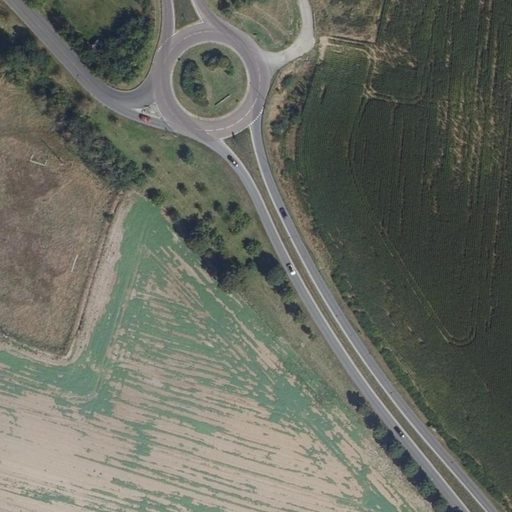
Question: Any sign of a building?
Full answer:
No, I can see no building in this picture.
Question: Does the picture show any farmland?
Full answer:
Yes, there's farmland in this view.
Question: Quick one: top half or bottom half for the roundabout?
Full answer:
Seen from above, the roundabout lies in the top half of the view.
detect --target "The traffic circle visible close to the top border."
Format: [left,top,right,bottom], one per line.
[152,22,269,140]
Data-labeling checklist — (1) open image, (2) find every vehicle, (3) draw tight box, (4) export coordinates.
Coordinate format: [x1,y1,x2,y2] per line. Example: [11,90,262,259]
[140,114,152,122]
[287,262,296,274]
[394,426,405,438]
[228,154,238,166]
[279,206,288,218]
